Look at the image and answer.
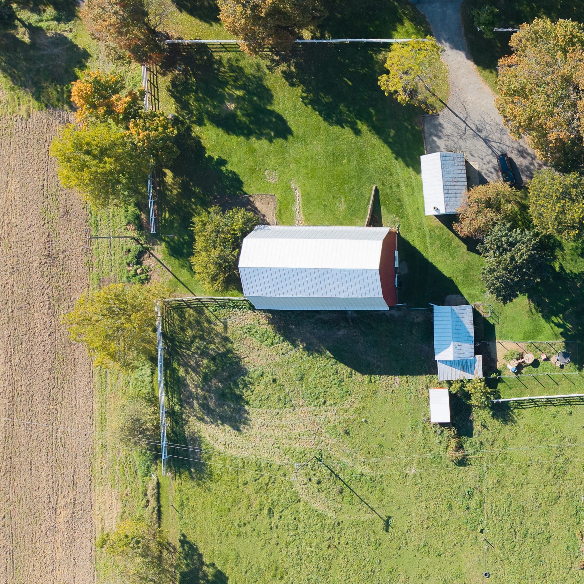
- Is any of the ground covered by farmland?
Yes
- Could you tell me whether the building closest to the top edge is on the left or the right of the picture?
right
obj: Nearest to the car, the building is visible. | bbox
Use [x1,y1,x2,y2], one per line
[420,152,468,215]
